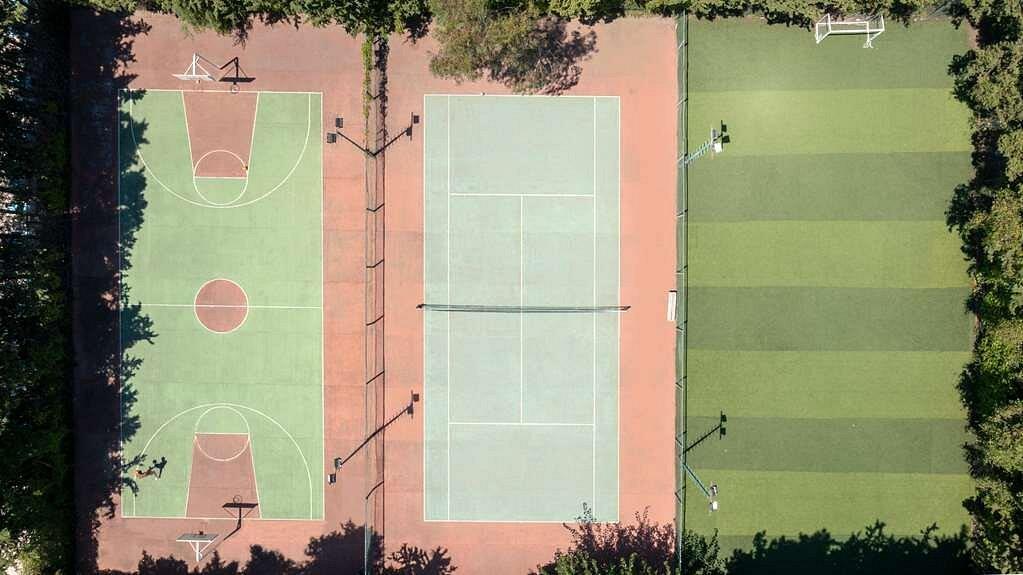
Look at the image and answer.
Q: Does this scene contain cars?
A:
No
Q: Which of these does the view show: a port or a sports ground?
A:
sports ground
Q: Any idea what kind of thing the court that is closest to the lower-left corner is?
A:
basketball court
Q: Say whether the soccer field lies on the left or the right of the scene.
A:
right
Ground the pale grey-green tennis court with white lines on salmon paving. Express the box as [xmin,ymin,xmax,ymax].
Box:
[424,96,621,522]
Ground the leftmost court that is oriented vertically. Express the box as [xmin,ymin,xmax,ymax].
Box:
[119,91,323,519]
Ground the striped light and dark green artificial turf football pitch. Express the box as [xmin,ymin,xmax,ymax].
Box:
[674,18,974,575]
